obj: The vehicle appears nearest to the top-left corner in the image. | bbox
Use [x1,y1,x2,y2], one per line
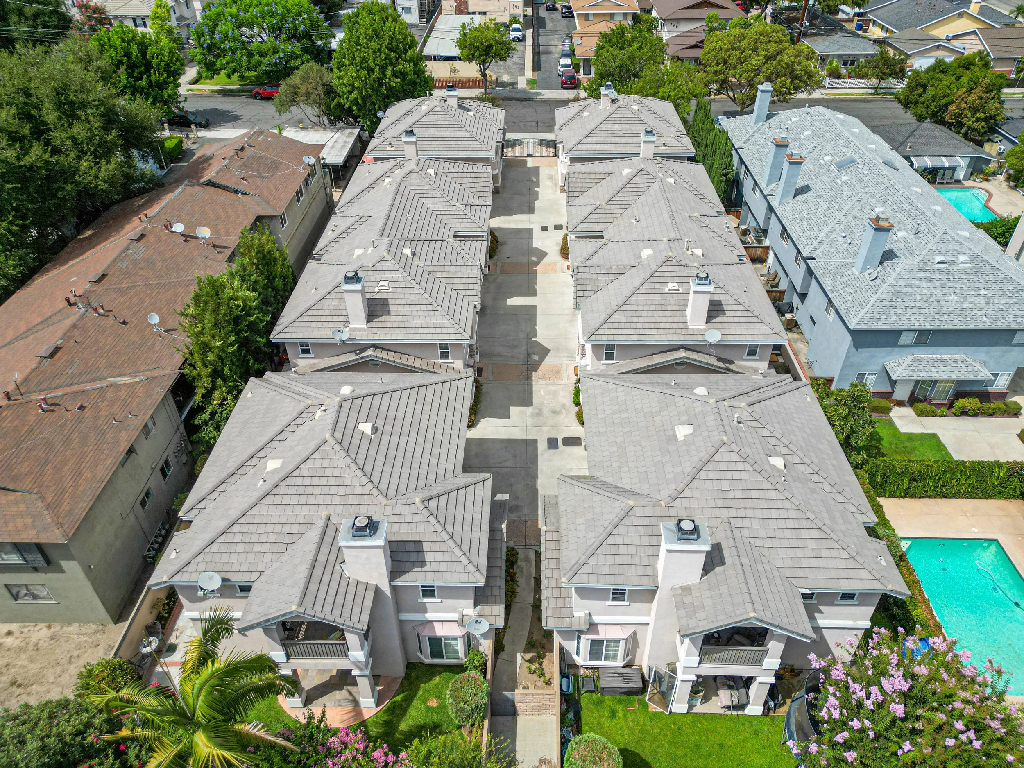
[163,107,213,125]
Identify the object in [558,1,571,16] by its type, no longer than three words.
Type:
vehicle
